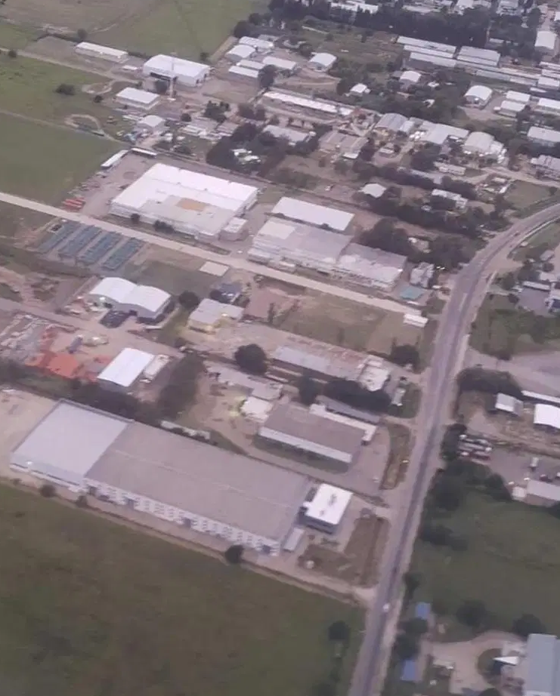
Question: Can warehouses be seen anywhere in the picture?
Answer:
Yes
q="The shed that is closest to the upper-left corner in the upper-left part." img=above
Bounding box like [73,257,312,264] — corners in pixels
[74,44,127,62]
